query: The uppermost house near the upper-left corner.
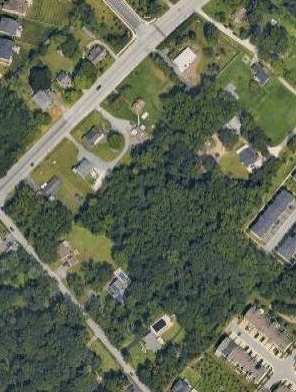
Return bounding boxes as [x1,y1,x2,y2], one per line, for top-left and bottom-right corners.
[2,0,31,17]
